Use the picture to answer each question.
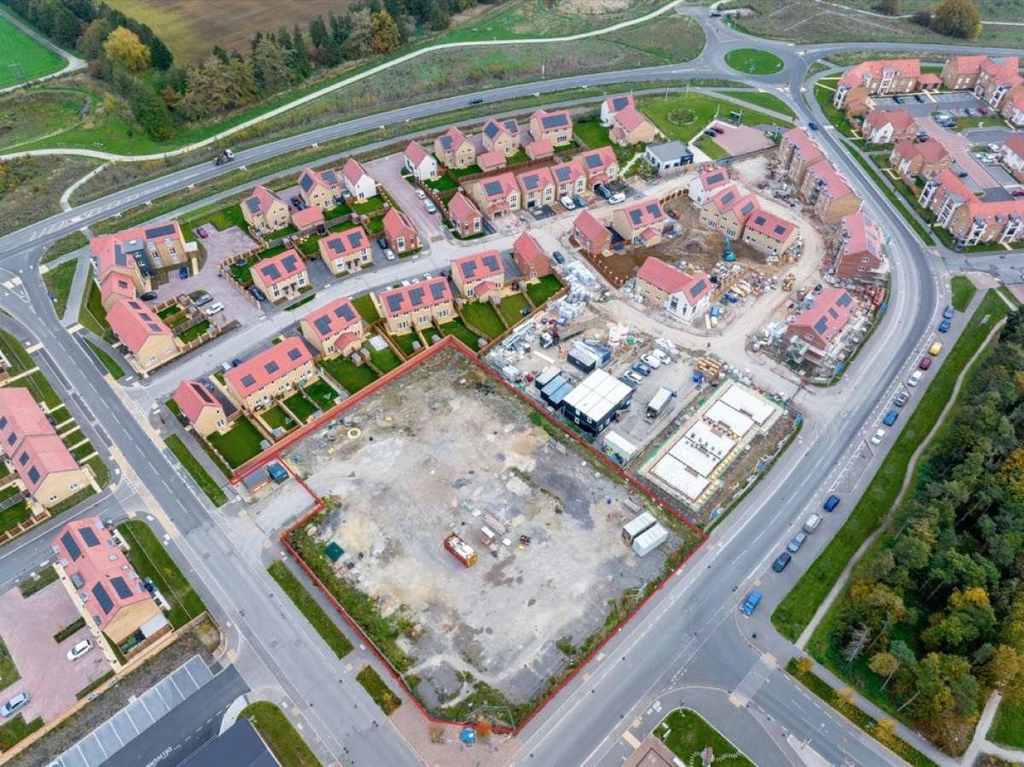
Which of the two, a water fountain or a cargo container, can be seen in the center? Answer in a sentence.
Looking in the center, you will find a cargo container.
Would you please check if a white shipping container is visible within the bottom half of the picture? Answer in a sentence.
Yes, a white shipping container appears within the bottom half of the picture.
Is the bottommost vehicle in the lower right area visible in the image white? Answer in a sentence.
No, the bottommost vehicle in the lower right area is actually blue.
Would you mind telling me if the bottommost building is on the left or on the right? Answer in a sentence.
You can find the bottommost building on the left side of the picture.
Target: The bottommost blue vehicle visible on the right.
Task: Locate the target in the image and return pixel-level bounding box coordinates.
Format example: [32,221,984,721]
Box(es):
[741,587,763,616]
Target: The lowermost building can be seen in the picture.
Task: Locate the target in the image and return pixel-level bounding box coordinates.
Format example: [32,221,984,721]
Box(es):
[175,716,287,767]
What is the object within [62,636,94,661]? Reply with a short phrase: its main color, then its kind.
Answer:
white car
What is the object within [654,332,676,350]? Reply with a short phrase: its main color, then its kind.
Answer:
white vehicle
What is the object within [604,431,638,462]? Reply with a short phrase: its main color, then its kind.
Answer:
white shipping container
